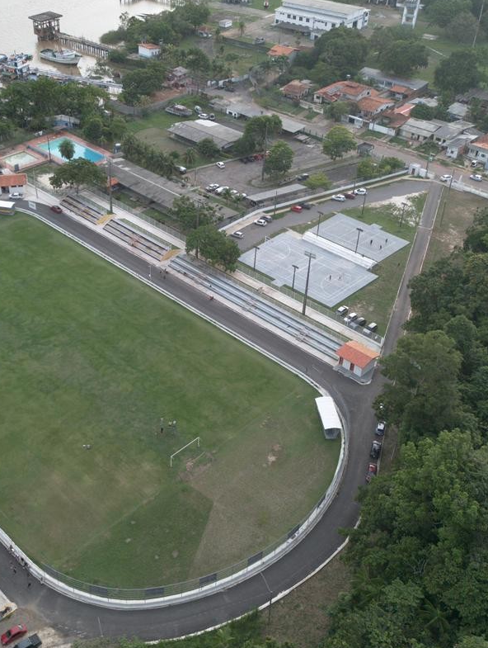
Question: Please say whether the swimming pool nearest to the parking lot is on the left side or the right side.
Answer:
left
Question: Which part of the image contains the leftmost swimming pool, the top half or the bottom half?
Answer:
top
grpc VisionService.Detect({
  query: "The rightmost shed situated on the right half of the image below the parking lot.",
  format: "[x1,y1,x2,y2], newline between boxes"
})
[335,342,380,377]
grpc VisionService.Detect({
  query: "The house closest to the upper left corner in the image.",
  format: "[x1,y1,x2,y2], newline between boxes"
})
[26,11,65,43]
